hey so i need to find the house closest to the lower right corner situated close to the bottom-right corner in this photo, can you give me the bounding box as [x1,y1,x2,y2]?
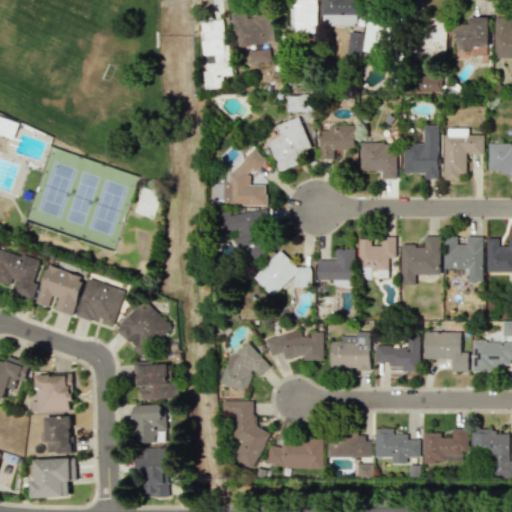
[473,430,512,478]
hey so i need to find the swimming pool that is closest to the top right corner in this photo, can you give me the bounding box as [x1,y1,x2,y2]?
[458,63,476,81]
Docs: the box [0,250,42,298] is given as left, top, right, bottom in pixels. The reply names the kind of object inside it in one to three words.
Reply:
house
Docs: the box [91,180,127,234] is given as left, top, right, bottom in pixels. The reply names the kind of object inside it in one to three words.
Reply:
tennis court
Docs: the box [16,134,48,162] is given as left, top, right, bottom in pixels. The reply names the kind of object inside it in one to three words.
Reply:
swimming pool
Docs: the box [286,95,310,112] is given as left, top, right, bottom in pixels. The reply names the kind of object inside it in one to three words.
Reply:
shed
